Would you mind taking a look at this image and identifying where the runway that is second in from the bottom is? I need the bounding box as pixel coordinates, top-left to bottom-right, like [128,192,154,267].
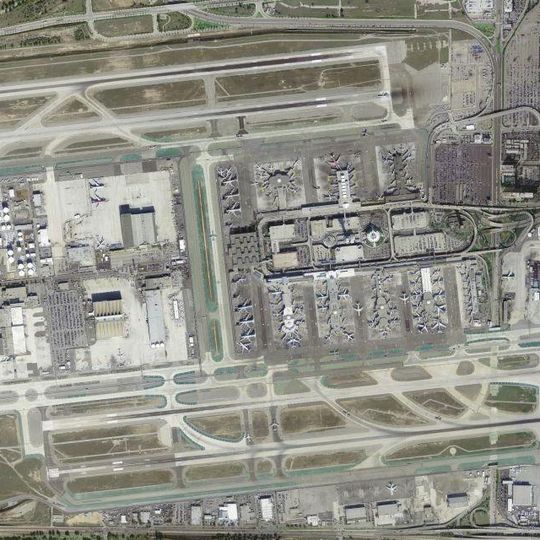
[41,364,540,433]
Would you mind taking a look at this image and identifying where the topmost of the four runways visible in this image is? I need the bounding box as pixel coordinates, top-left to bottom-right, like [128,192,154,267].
[0,42,386,100]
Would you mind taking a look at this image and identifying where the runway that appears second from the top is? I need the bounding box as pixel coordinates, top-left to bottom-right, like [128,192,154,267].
[0,86,390,146]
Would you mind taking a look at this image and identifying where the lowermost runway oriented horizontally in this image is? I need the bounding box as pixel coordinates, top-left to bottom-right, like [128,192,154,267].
[48,412,540,481]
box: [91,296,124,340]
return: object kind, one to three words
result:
hangar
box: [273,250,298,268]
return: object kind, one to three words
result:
building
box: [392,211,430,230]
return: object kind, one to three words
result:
building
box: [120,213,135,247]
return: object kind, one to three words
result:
hangar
